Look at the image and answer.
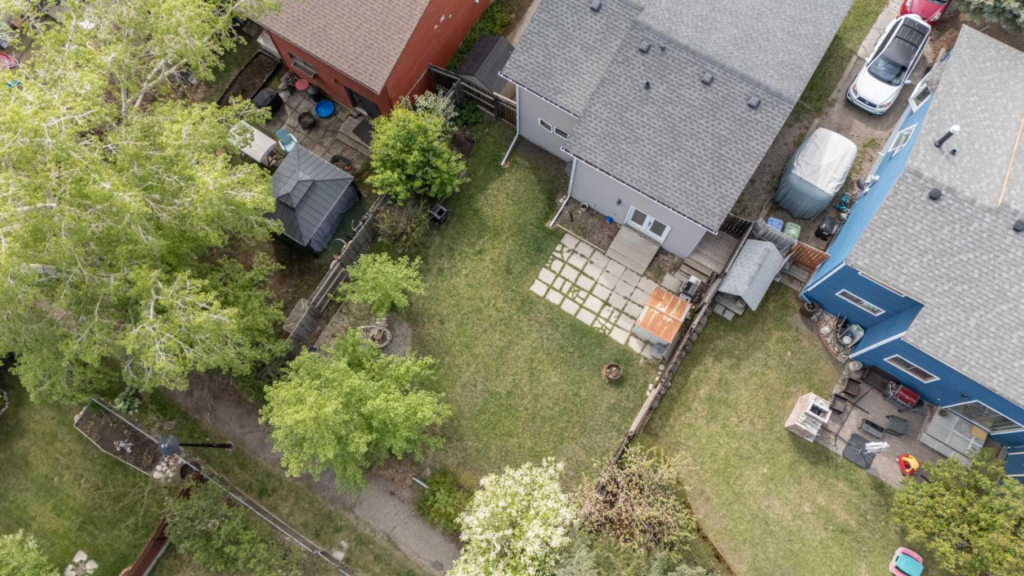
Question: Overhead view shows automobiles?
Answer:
Yes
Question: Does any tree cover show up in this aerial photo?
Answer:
Yes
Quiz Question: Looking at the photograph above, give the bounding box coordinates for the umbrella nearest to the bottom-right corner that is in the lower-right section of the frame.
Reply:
[844,434,893,466]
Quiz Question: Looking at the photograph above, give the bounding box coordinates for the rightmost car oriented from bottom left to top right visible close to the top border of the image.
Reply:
[846,12,932,118]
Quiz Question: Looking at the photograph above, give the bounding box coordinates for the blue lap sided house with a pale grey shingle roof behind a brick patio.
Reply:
[801,24,1024,451]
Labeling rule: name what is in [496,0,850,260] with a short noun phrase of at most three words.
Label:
house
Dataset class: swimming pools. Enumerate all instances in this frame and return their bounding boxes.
[315,100,334,119]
